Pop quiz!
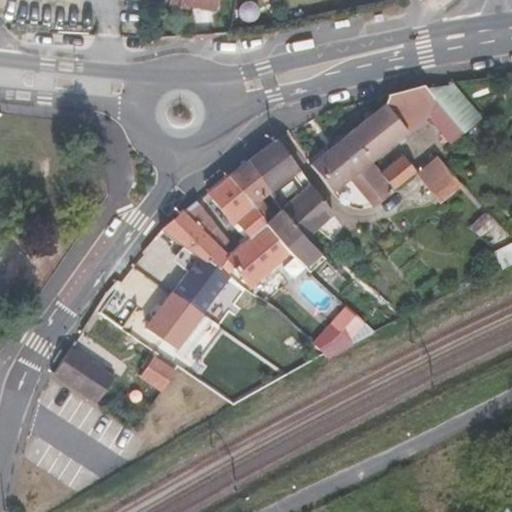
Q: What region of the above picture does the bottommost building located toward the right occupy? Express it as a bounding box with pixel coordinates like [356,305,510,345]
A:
[314,306,372,360]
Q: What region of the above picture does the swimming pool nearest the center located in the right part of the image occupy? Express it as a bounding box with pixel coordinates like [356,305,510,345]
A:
[301,279,330,306]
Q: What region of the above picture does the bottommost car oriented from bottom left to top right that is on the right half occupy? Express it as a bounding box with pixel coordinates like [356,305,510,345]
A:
[381,193,402,212]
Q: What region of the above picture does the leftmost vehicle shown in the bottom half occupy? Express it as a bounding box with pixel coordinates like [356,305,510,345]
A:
[53,386,70,408]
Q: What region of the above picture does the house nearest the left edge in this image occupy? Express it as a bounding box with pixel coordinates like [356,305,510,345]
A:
[54,344,115,402]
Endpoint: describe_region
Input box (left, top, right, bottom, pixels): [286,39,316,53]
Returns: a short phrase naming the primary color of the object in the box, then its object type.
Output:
white vehicle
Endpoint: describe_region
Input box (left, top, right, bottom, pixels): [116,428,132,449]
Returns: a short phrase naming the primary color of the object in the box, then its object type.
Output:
white car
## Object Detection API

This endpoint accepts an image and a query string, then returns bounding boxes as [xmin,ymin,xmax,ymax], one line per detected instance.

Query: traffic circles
[138,68,224,154]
